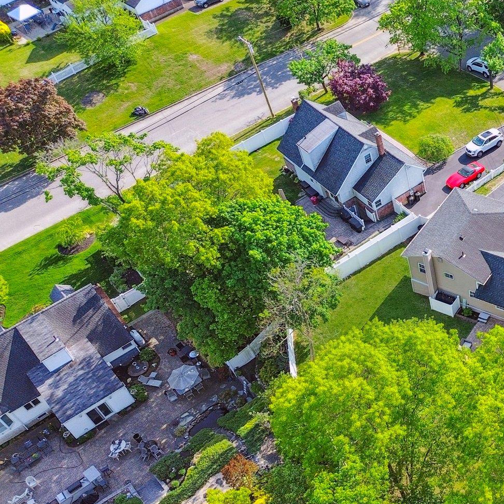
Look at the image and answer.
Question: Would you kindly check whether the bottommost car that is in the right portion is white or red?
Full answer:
The color of the bottommost car that is in the right portion is red.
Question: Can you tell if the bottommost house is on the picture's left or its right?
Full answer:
The bottommost house is on the left side of the image.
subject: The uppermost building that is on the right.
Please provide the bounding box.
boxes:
[275,93,429,220]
